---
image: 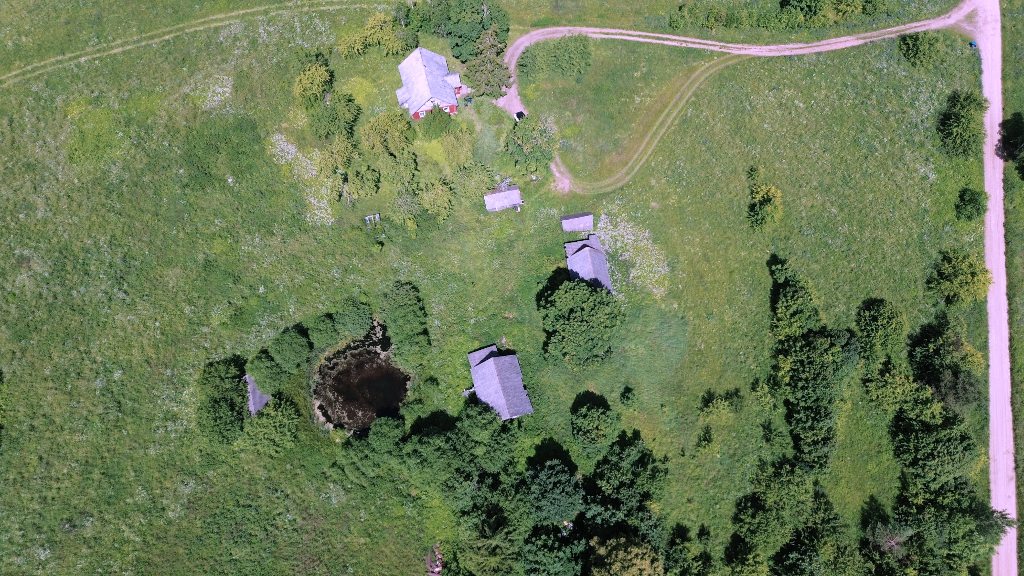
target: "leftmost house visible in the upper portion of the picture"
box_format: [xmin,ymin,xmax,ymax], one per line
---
[396,47,462,121]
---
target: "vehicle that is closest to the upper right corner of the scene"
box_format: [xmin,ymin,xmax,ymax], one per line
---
[515,107,529,122]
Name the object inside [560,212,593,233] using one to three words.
shed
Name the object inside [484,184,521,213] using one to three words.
shed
